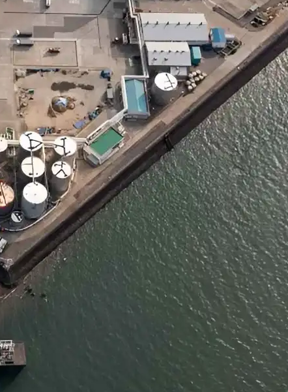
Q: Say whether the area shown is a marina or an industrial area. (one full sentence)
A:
What you see here is an industrial area.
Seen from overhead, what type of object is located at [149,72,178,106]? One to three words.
storage tank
